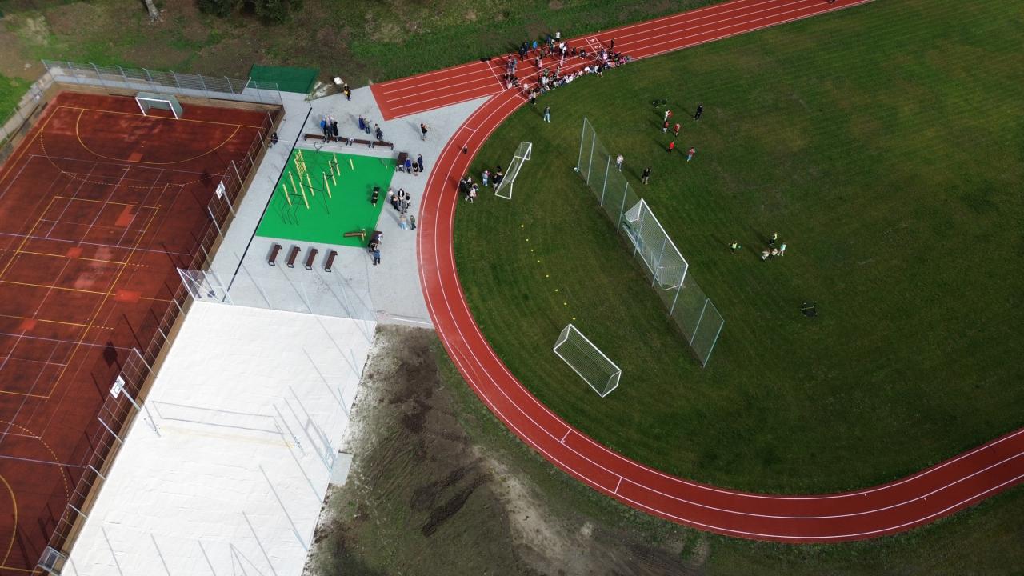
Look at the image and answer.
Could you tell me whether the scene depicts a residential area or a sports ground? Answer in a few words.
sports ground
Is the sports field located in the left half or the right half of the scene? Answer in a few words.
right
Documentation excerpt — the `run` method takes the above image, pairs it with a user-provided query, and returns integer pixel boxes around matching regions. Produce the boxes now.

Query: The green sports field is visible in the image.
[453,0,1024,496]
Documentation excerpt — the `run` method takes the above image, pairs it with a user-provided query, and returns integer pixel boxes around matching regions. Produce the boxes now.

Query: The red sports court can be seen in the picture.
[0,91,278,576]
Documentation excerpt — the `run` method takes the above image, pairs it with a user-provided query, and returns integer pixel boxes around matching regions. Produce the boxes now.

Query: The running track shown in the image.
[370,0,1024,545]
